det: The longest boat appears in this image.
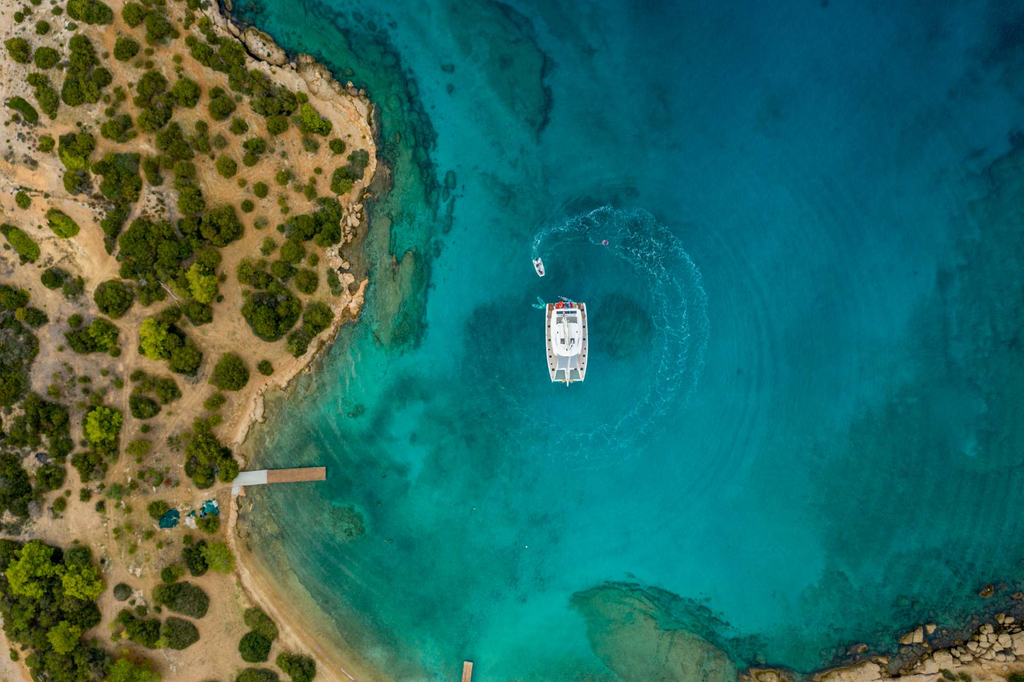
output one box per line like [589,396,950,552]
[546,303,588,387]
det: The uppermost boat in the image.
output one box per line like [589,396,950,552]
[533,258,545,277]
